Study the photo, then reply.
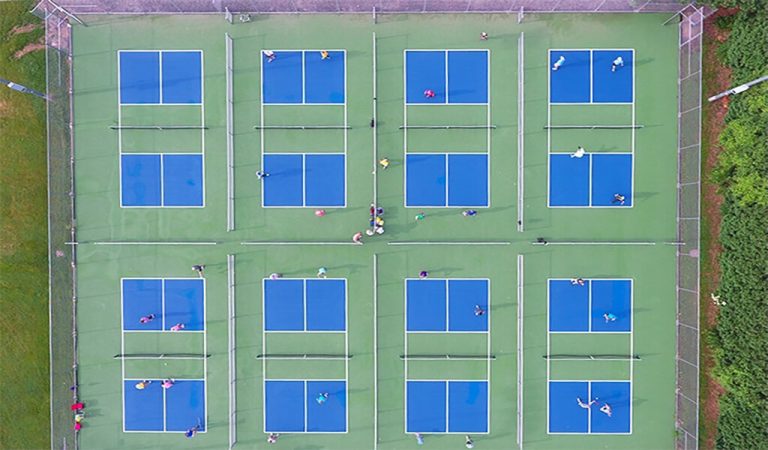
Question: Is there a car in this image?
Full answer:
No, no car can be seen from above.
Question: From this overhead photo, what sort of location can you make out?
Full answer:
This looks like a sports ground.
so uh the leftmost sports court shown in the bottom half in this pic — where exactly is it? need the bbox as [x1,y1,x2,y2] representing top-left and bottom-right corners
[122,278,206,433]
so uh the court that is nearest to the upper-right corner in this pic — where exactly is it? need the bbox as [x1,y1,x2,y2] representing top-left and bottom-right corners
[548,49,634,208]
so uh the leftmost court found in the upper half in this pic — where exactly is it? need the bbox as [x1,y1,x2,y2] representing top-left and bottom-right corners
[118,50,205,208]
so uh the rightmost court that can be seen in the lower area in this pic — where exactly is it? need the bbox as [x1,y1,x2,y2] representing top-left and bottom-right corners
[548,278,633,434]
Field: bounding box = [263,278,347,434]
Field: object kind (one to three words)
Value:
sports court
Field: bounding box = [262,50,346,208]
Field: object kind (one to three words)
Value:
sports court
